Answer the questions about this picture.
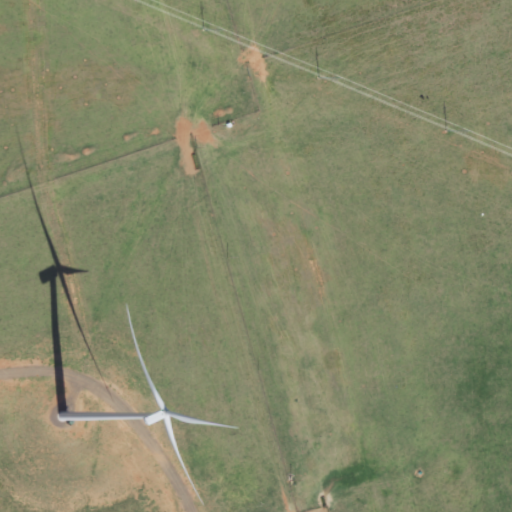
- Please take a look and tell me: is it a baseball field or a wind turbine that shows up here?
wind turbine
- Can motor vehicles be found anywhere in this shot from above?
No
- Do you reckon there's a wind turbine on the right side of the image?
No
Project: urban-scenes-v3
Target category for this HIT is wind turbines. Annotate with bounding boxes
[59,304,238,504]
